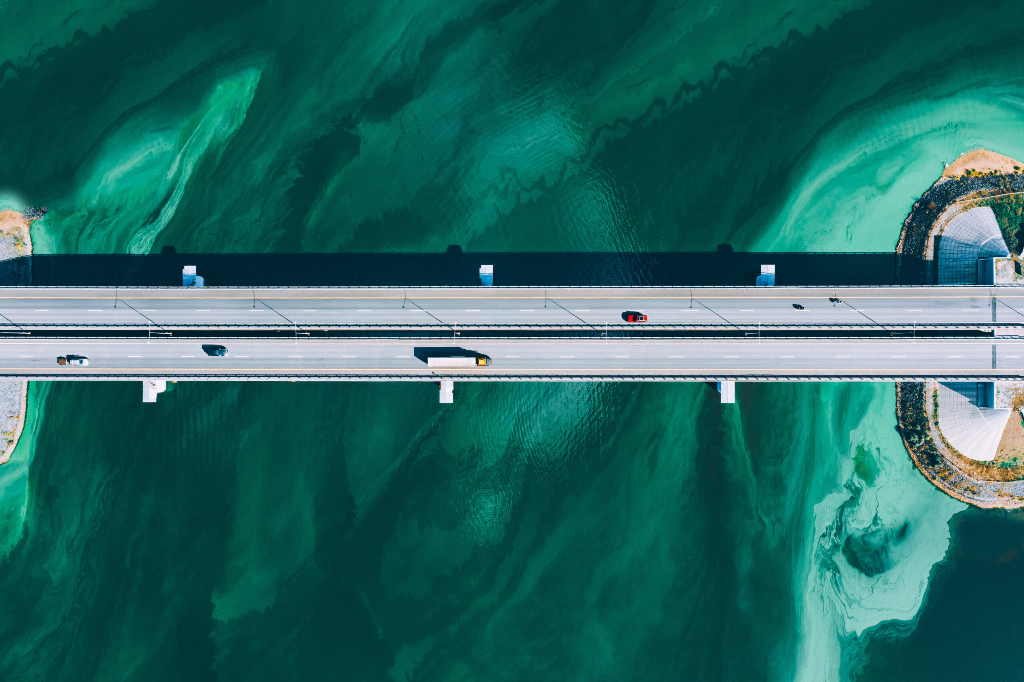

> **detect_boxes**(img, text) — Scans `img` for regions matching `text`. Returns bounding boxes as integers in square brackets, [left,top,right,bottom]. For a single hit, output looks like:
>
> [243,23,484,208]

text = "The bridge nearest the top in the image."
[0,285,1024,330]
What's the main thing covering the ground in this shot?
water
